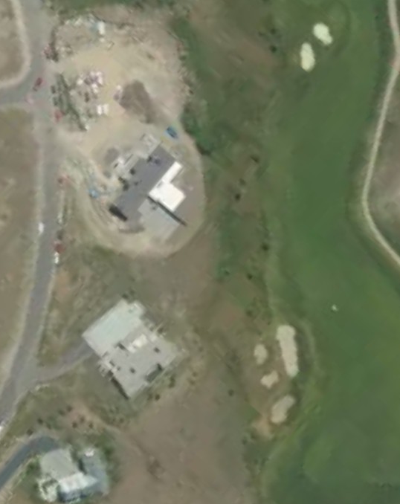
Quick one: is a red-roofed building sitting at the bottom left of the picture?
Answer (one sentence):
No, no red-roofed building is visible at the bottom left of the picture.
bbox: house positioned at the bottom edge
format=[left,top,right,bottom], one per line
[38,448,108,503]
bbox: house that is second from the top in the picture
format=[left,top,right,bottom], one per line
[81,298,180,399]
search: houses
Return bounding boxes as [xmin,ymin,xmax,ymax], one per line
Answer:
[112,135,186,239]
[38,448,108,503]
[81,298,180,399]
